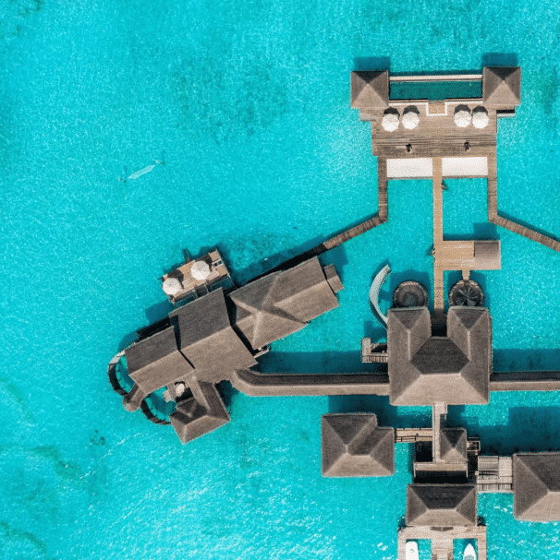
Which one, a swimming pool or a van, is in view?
swimming pool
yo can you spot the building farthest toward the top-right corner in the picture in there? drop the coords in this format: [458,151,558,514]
[483,66,522,106]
